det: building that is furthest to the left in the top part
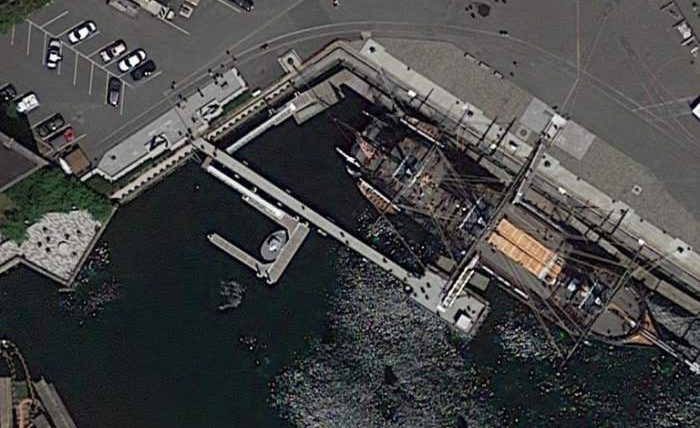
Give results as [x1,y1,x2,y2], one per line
[0,129,48,193]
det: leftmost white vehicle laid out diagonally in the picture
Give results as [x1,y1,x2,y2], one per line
[13,91,40,113]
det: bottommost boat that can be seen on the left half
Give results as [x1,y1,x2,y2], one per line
[260,230,286,258]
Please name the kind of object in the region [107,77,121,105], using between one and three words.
car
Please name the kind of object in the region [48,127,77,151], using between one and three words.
truck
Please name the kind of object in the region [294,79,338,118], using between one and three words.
pier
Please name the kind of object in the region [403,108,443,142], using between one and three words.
boat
